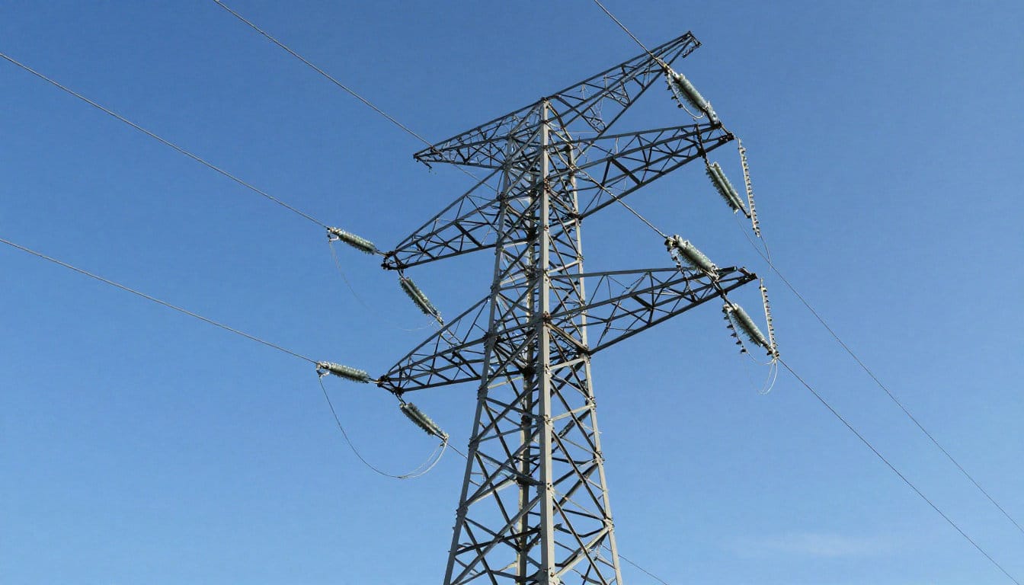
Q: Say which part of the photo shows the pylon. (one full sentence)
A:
The pylon is located in the center region of the scene.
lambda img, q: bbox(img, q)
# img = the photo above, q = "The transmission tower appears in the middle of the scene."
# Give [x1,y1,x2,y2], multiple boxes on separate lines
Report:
[380,30,758,585]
